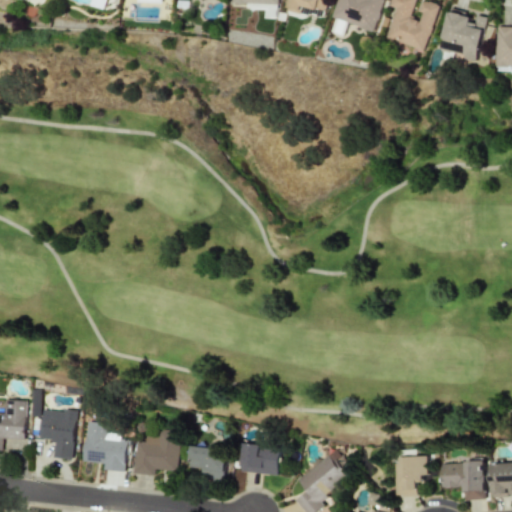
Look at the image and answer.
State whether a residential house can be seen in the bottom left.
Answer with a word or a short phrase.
Yes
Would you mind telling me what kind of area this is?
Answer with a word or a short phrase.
golf course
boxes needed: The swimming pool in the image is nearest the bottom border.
[358,490,370,508]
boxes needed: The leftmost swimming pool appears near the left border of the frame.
[11,382,30,396]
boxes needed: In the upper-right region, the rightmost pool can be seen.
[431,48,443,72]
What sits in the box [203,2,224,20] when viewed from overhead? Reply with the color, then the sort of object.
blue swimming pool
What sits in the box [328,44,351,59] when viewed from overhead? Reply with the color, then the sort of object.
blue swimming pool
